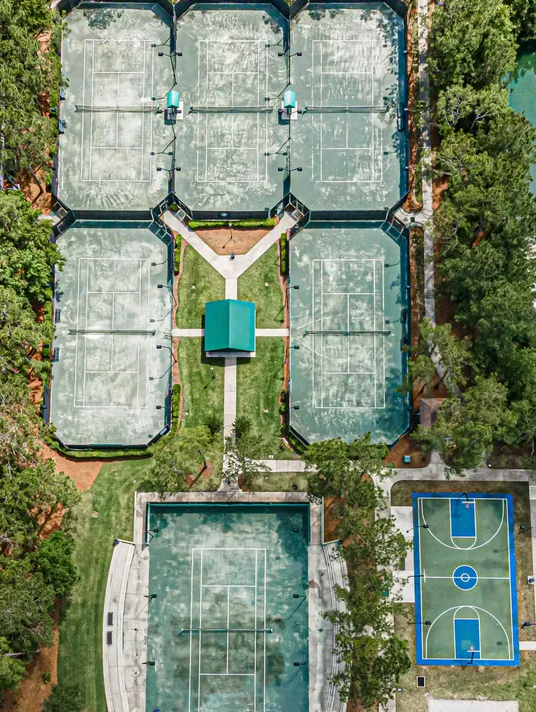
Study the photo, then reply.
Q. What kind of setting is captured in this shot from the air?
sports ground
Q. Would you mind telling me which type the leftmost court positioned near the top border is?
tennis court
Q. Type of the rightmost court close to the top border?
tennis court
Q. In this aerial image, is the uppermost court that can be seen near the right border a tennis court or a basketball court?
basketball court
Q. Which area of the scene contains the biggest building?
center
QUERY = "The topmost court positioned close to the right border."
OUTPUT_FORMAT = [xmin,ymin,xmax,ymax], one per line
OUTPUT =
[413,493,519,665]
